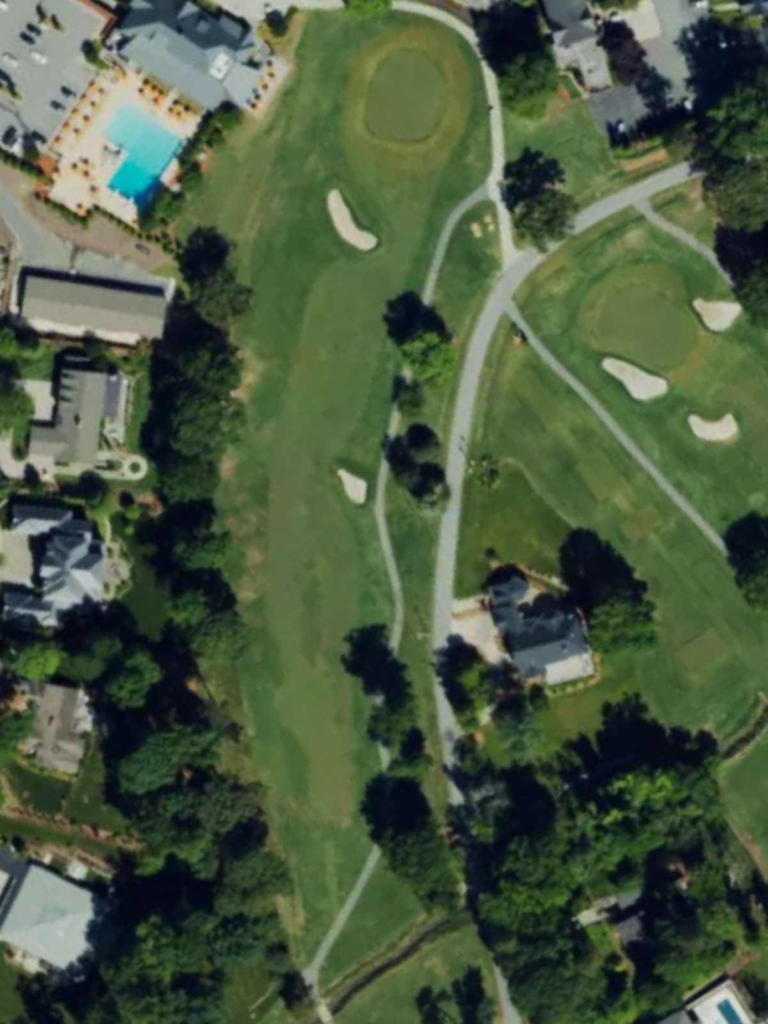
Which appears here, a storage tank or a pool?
pool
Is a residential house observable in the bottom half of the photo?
Yes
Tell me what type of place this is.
golf course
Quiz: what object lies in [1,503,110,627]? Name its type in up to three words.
house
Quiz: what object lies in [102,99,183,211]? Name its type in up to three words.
swimming pool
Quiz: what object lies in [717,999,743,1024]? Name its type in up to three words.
swimming pool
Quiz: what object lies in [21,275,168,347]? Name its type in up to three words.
building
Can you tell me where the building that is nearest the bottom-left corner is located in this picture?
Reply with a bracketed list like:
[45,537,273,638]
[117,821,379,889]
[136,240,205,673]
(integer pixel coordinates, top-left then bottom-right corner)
[0,848,97,969]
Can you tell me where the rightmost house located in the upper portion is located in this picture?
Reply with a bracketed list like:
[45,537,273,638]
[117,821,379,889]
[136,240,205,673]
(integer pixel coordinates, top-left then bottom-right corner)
[545,0,614,90]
